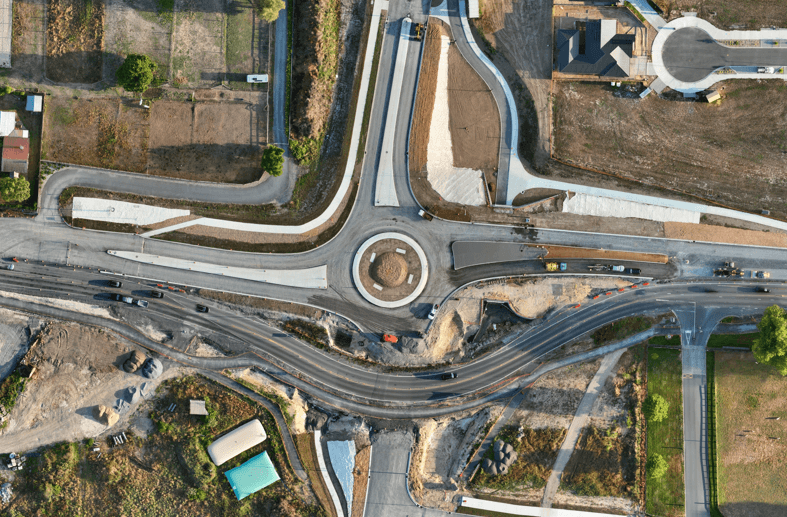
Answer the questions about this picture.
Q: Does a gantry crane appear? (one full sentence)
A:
No, no gantry crane is visible in the scene.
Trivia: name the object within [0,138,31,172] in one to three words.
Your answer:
house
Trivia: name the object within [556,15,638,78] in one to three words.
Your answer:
house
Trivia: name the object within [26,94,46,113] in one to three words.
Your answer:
shed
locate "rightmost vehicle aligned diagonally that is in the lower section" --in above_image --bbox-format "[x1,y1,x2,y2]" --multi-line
[426,303,440,321]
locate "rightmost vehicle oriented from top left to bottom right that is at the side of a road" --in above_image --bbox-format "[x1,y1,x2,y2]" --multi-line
[417,207,433,222]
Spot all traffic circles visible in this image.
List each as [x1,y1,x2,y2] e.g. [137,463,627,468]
[329,209,451,314]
